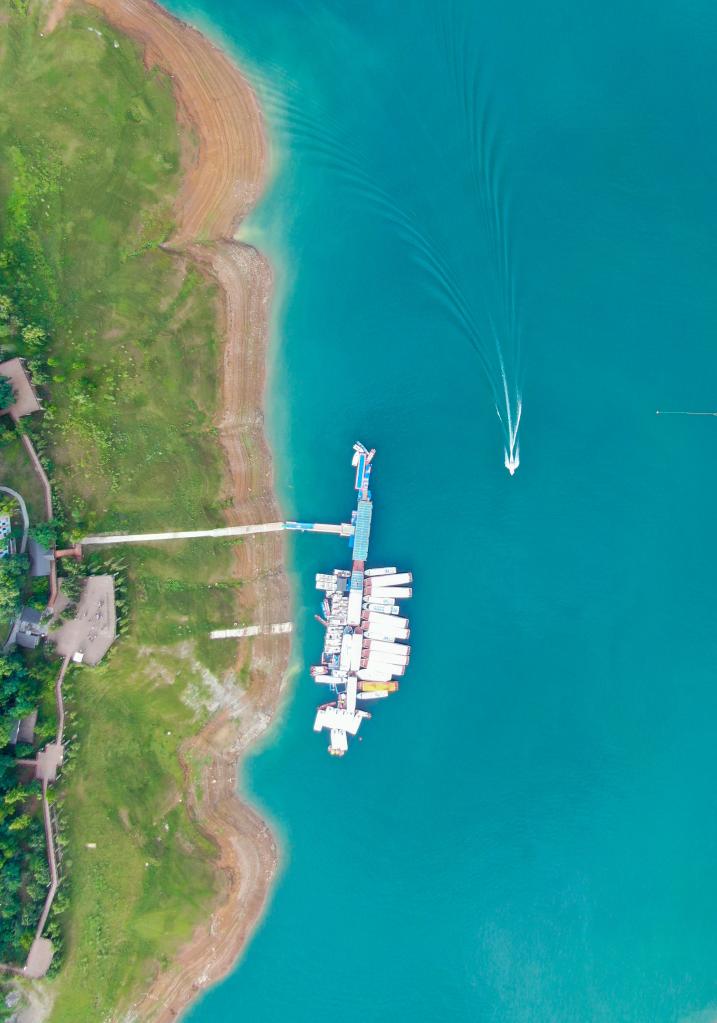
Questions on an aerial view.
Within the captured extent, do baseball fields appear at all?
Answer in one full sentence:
No, no baseball field is visible in the view.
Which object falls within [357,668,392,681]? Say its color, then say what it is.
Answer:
white boat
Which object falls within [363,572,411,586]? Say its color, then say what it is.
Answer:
white boat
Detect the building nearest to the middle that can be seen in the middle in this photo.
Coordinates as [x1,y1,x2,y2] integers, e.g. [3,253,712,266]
[353,501,372,561]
